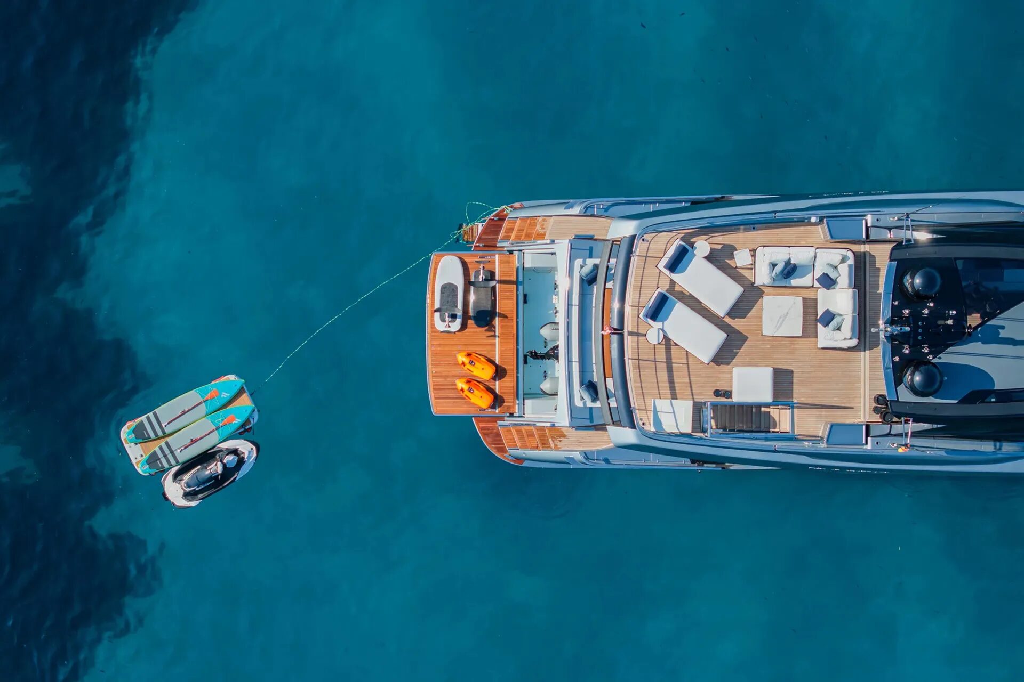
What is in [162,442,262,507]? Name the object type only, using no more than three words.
boat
